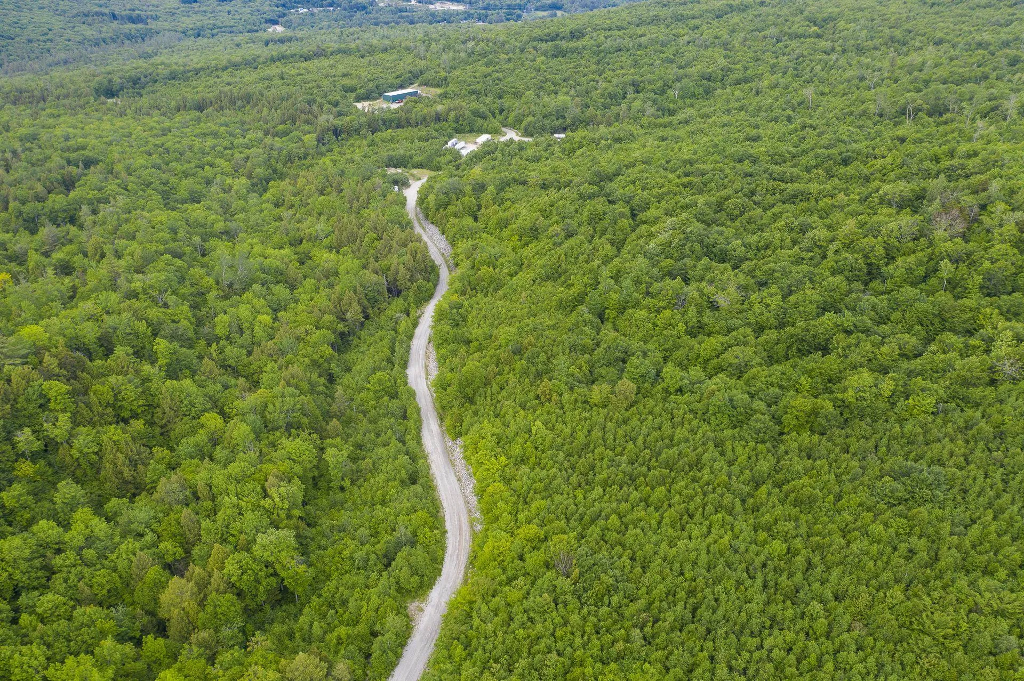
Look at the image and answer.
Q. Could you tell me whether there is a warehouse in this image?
No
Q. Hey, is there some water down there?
No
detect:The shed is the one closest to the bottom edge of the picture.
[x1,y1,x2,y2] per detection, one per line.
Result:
[382,87,419,102]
